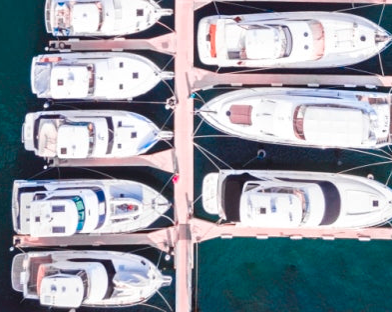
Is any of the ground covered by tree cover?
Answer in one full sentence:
No, no tree cover is visible.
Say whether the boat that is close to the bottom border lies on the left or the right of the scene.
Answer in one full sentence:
The boat that is close to the bottom border is on the left side of the image.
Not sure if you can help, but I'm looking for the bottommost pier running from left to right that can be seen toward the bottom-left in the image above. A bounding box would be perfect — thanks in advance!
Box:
[13,227,175,252]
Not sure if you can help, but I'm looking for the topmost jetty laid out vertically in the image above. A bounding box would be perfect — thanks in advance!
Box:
[174,2,194,269]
